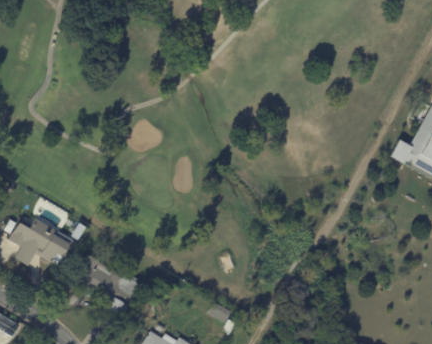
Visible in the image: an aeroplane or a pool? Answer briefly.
pool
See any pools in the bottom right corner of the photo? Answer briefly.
No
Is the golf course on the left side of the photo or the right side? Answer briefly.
left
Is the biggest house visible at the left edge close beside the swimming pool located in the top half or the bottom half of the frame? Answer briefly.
bottom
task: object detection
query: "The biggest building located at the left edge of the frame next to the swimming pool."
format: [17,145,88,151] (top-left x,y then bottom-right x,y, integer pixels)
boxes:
[10,218,74,266]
